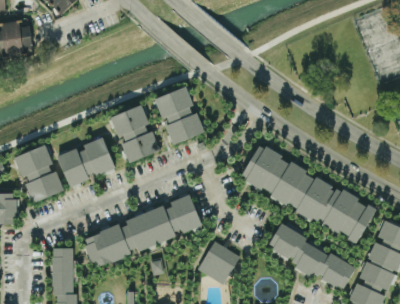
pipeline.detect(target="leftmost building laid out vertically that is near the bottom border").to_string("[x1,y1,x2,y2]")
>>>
[54,248,74,294]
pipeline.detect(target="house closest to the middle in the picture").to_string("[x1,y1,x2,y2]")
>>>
[167,114,204,145]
